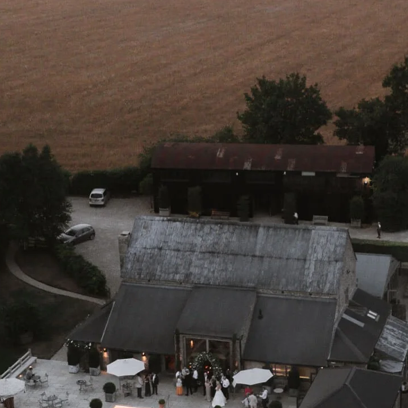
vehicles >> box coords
[89,184,107,203]
[60,223,98,246]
